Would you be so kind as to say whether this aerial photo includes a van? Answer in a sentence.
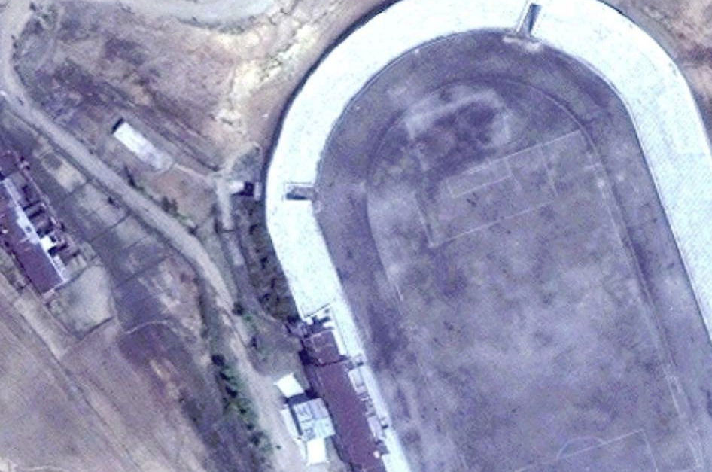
No, there appears to be no van in this shot.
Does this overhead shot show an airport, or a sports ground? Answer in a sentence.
This image shows a sports ground.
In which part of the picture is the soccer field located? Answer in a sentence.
The soccer field is located in the right region of the scene.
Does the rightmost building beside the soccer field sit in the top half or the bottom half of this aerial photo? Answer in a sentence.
Seen from above, the rightmost building beside the soccer field lies in the bottom half of the view.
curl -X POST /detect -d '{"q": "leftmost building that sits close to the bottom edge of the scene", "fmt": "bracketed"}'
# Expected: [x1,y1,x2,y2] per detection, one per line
[273,372,335,467]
